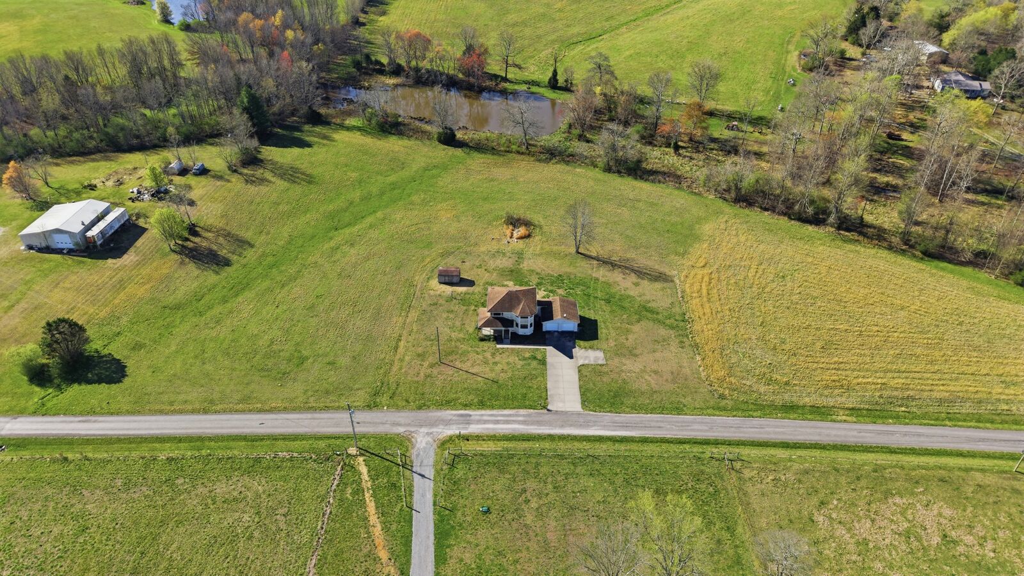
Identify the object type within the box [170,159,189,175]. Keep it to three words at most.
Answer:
camper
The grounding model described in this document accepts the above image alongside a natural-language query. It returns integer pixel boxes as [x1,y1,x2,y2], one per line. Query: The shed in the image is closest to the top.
[909,43,957,64]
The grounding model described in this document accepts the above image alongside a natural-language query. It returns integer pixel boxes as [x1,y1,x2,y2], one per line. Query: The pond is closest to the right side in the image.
[328,87,567,135]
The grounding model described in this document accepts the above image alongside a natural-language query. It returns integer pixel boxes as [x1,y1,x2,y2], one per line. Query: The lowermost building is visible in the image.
[478,287,581,345]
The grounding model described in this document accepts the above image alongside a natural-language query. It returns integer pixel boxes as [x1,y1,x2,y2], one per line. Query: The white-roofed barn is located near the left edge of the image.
[17,197,113,248]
